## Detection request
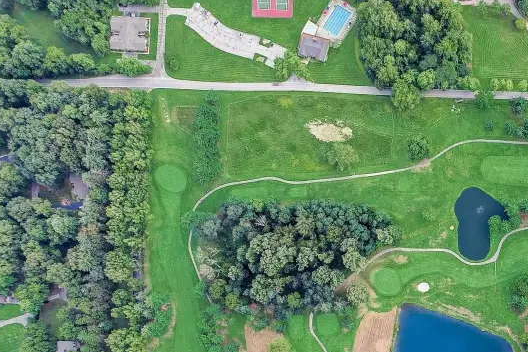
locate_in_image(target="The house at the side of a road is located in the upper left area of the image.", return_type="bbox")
[110,13,151,55]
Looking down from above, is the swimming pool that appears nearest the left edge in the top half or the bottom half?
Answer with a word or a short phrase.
top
